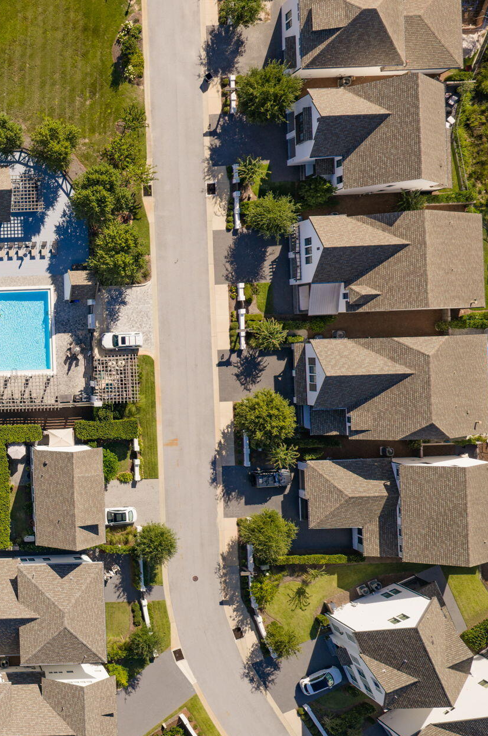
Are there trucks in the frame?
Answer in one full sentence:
No, the frame has no truck in it.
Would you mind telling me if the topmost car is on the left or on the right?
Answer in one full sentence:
It is on the left.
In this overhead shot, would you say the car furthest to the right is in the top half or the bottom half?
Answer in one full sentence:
The car furthest to the right is in the bottom half of the image.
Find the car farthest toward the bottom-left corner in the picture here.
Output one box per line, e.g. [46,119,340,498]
[105,507,135,527]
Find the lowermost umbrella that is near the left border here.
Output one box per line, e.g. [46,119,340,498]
[9,444,28,463]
